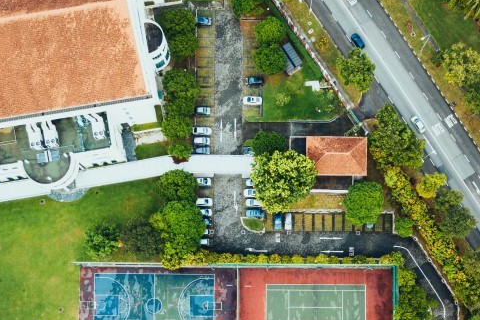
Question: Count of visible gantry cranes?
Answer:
zero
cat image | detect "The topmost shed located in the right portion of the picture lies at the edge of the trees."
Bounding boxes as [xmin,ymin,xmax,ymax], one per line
[280,42,302,74]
